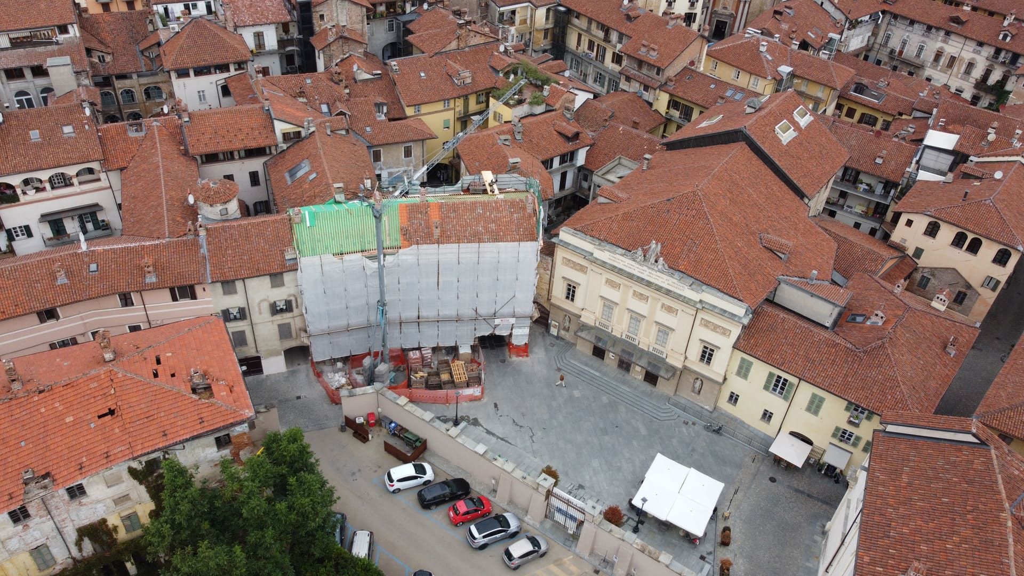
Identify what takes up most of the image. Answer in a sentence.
For the most part, this view shows buildings.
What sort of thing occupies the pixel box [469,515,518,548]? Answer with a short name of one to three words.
car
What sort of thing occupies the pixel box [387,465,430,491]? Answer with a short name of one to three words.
car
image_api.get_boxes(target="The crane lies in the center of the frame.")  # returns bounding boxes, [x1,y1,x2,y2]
[359,75,529,389]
